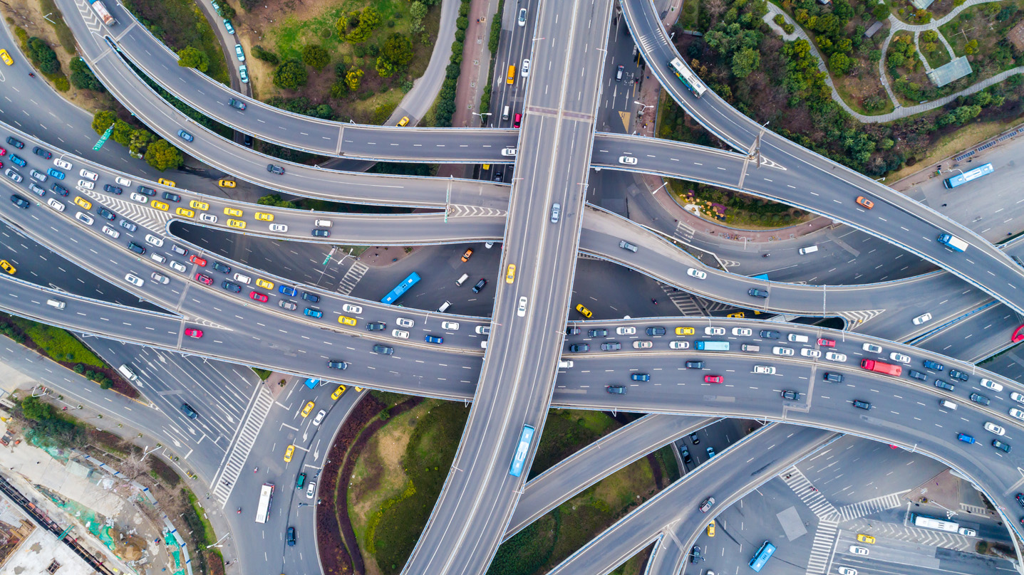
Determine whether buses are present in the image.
Yes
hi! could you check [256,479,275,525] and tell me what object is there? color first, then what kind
white vehicle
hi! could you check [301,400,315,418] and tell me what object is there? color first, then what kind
yellow car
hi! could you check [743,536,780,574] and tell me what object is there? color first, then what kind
blue bus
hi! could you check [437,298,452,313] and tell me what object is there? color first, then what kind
white vehicle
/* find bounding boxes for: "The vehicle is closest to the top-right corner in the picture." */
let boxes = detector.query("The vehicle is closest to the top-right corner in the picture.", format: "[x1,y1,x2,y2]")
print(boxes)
[938,163,996,190]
